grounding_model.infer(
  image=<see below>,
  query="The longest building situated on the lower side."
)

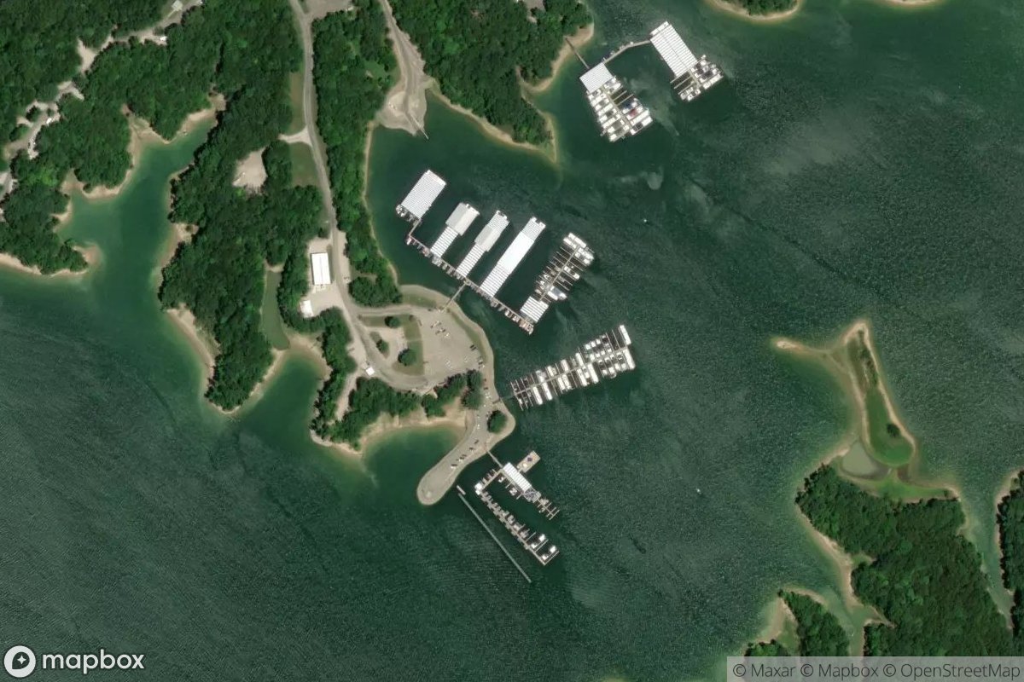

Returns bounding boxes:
[503,461,541,503]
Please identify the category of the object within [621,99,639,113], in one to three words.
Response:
boat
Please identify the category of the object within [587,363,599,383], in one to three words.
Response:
boat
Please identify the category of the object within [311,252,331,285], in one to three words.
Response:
building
